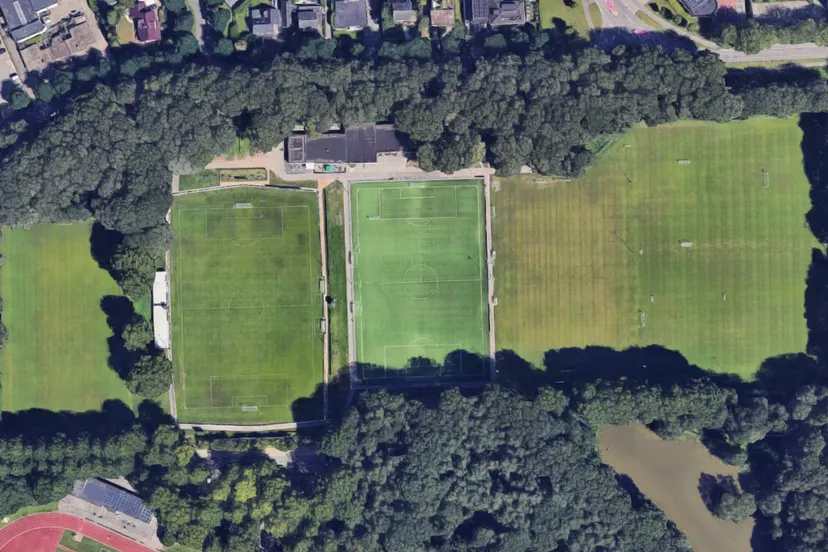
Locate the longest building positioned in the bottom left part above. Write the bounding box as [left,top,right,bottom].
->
[74,477,154,523]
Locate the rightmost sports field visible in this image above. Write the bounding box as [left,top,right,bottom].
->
[491,111,828,398]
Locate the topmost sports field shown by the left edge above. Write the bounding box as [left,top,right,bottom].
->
[0,214,172,445]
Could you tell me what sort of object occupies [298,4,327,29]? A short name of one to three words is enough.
house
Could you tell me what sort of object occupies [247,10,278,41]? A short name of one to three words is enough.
house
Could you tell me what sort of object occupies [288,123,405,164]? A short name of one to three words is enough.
building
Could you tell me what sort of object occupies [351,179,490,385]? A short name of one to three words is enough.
soccer field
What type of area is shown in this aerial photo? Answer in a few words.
sports ground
